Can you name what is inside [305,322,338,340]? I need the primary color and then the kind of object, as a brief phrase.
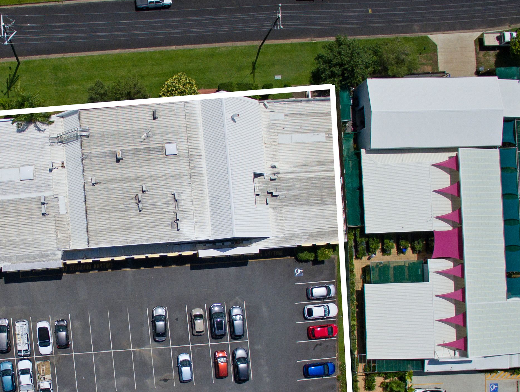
red car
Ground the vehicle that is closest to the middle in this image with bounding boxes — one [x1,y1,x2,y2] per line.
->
[305,283,336,299]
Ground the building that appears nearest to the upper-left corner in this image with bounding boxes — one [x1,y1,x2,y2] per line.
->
[0,90,348,271]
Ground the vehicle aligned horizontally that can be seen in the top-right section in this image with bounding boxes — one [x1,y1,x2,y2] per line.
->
[481,28,519,47]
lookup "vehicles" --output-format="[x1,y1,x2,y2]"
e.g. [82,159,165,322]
[151,306,169,342]
[302,302,339,320]
[190,308,206,336]
[53,319,70,349]
[135,0,173,9]
[0,317,13,354]
[214,349,230,378]
[481,28,519,47]
[15,319,32,357]
[232,346,251,384]
[176,352,193,384]
[17,358,35,392]
[0,360,17,392]
[209,304,227,340]
[35,360,54,392]
[305,322,338,340]
[301,361,336,378]
[228,306,246,340]
[305,283,336,299]
[35,320,53,356]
